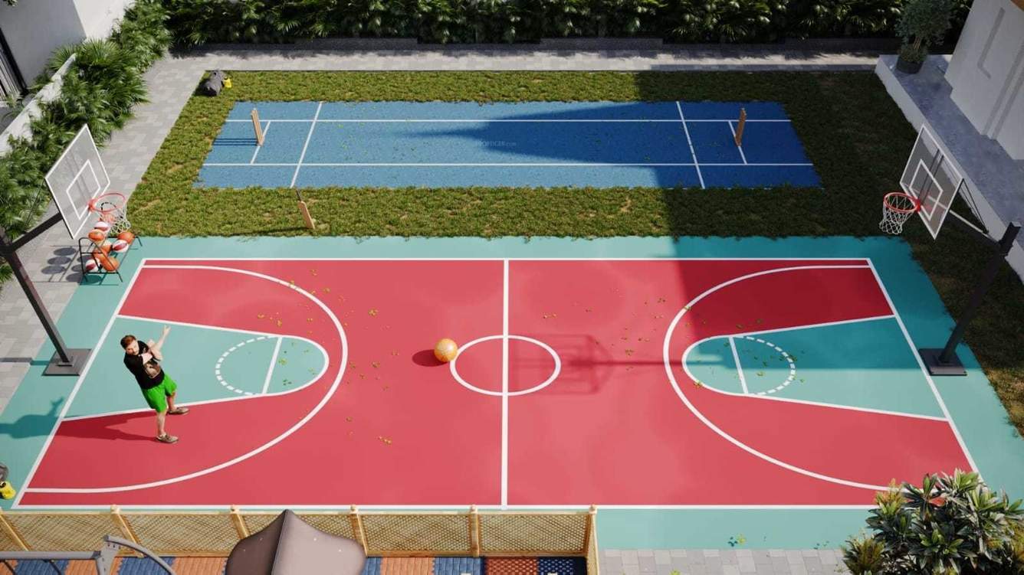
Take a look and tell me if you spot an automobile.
No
